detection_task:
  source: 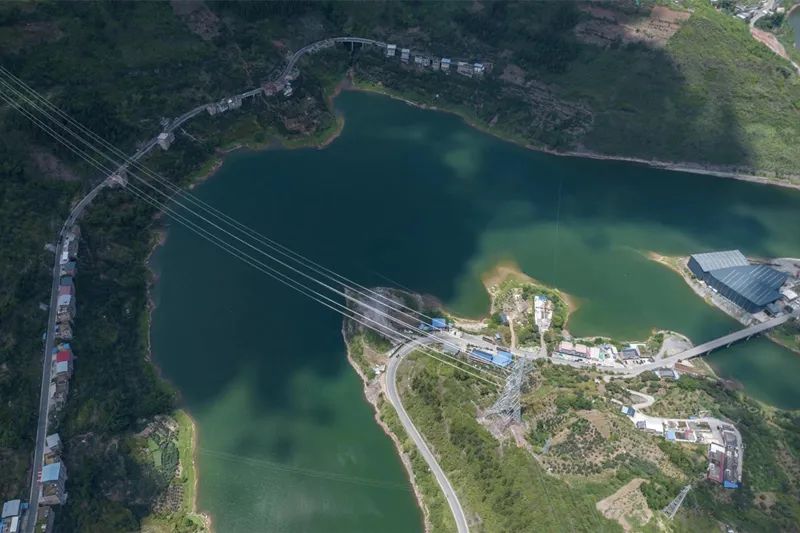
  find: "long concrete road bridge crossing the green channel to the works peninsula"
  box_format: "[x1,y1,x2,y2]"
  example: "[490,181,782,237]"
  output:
[685,315,780,358]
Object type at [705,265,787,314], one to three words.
building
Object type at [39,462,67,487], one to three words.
house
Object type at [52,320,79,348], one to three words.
house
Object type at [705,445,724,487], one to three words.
building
